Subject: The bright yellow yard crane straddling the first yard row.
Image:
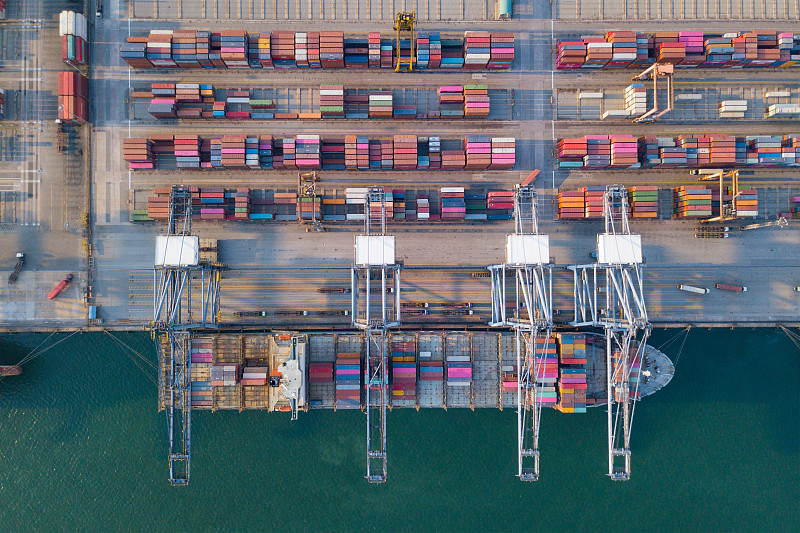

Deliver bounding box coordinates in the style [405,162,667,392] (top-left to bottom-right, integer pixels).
[392,5,416,73]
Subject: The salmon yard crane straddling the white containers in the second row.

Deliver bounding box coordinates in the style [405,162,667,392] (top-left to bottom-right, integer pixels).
[634,59,675,124]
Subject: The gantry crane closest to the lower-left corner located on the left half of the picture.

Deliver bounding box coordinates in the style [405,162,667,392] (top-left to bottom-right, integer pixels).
[144,186,235,488]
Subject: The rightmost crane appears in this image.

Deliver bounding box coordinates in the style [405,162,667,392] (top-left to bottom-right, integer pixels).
[695,168,740,225]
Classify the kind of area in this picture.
port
